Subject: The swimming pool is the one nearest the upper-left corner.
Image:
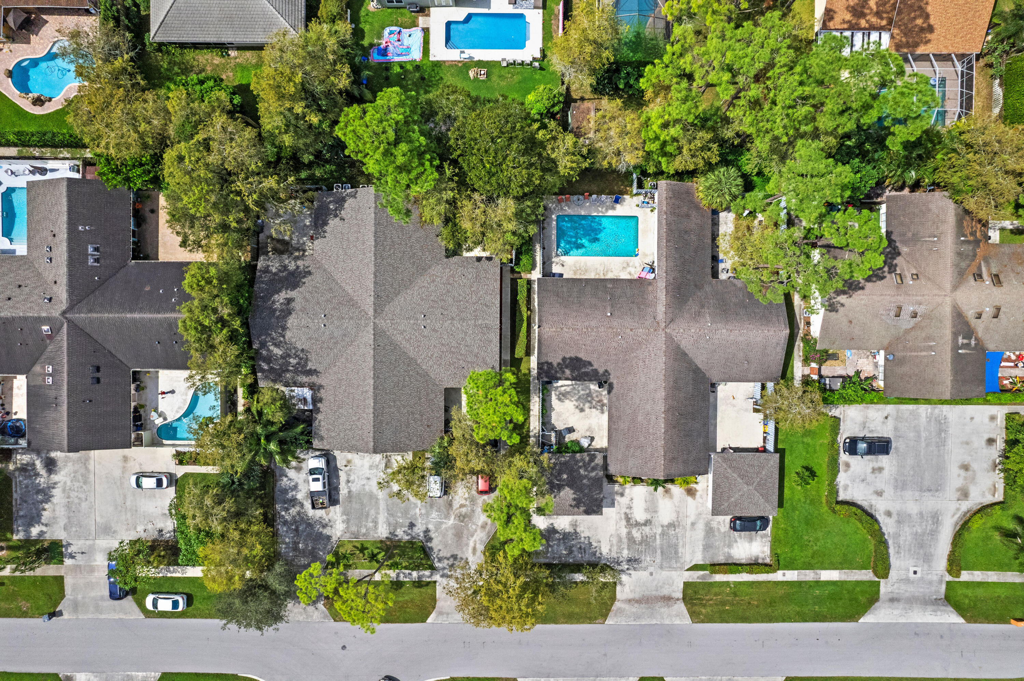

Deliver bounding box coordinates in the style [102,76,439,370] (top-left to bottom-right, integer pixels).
[8,35,102,101]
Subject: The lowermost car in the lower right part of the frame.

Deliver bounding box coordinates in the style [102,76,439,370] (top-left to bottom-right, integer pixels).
[729,515,767,533]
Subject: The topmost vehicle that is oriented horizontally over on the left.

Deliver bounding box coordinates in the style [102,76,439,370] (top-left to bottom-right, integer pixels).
[128,471,171,491]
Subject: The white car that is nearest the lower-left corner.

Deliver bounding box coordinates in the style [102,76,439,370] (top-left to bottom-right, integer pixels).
[145,592,187,613]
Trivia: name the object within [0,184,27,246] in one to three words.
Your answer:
swimming pool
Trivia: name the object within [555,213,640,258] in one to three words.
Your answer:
swimming pool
